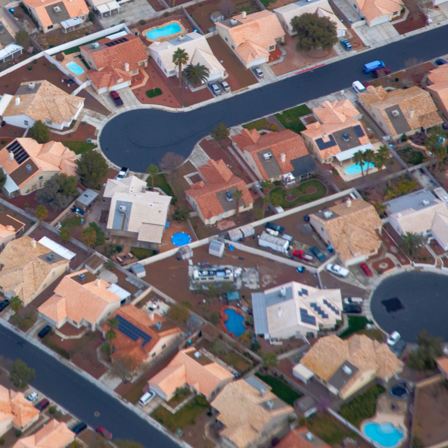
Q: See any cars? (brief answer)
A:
Yes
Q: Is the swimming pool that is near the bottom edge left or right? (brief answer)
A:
right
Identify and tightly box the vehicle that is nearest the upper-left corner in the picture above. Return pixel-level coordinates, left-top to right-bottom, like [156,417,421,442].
[108,90,126,107]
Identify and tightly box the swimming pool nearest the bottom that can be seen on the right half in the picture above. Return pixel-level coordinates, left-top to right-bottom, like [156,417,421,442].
[361,421,405,448]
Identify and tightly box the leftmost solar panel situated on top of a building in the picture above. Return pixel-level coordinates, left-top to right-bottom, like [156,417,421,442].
[6,141,30,164]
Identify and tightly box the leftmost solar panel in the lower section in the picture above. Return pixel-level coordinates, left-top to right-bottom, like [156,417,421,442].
[117,316,152,342]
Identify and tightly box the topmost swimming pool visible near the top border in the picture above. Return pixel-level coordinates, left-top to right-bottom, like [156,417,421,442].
[144,21,183,40]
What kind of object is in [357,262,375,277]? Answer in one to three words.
car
